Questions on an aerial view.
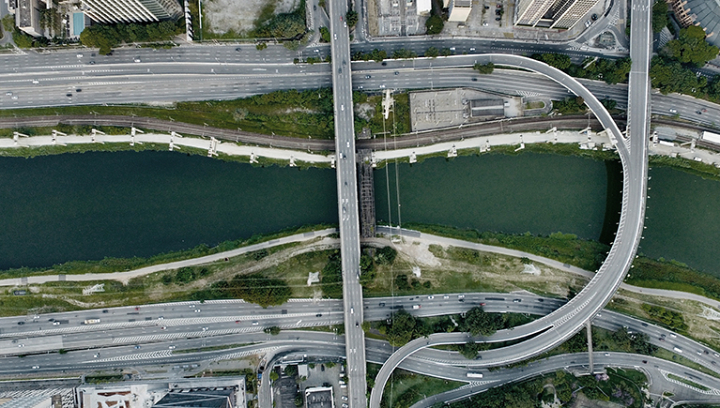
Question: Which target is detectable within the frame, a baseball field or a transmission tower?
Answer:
transmission tower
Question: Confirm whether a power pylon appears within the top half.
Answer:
Yes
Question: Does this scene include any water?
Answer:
Yes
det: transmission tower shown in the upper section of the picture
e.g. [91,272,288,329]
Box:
[380,90,400,119]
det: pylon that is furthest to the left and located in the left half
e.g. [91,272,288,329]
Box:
[80,281,106,297]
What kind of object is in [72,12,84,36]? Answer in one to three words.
swimming pool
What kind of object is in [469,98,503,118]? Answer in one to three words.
building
